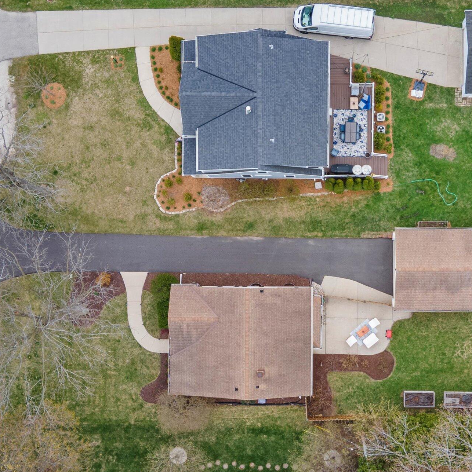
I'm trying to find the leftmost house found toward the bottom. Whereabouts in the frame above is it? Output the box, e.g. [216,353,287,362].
[167,270,324,400]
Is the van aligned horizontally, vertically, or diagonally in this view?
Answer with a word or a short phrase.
horizontally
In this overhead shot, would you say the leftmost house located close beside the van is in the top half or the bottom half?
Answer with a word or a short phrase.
top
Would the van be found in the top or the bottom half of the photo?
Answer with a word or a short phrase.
top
